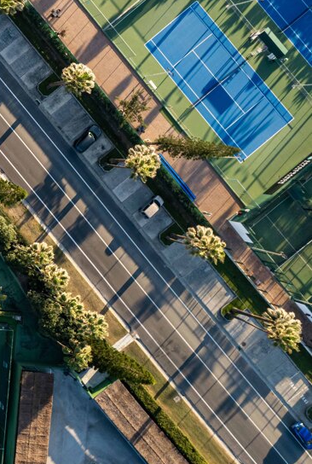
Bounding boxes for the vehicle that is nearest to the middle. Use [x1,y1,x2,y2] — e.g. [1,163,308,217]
[140,195,165,217]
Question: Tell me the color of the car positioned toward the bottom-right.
blue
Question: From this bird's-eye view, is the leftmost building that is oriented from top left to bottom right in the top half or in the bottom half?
bottom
